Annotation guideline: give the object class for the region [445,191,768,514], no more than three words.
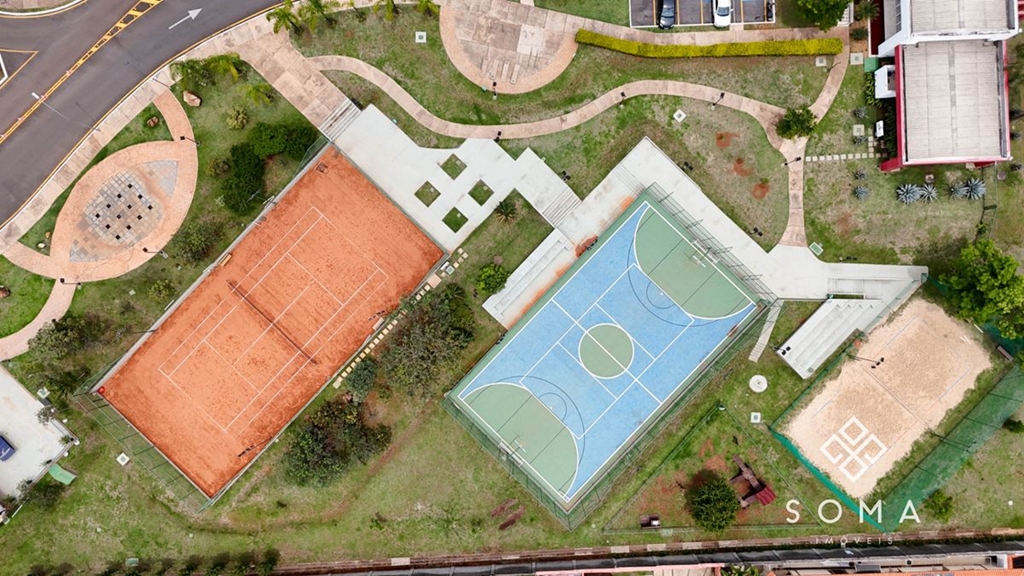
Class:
sports court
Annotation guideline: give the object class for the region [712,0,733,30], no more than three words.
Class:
car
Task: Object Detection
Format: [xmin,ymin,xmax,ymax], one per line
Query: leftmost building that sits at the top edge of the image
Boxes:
[881,0,1019,172]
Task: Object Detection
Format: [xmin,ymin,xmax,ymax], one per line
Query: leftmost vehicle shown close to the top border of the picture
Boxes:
[658,0,679,30]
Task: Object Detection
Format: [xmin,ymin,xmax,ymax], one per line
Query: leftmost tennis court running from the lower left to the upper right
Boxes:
[92,141,450,503]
